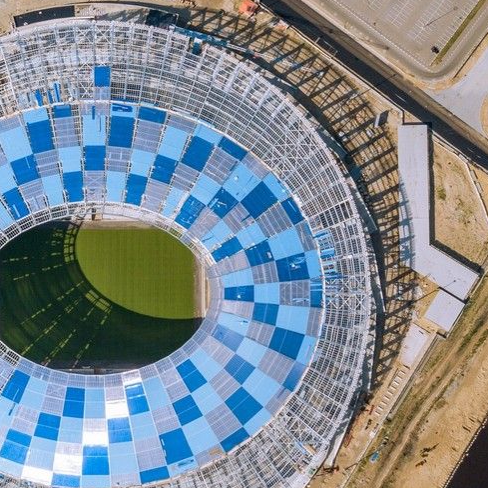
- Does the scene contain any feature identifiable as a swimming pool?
No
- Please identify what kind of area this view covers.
sports ground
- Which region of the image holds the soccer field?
left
